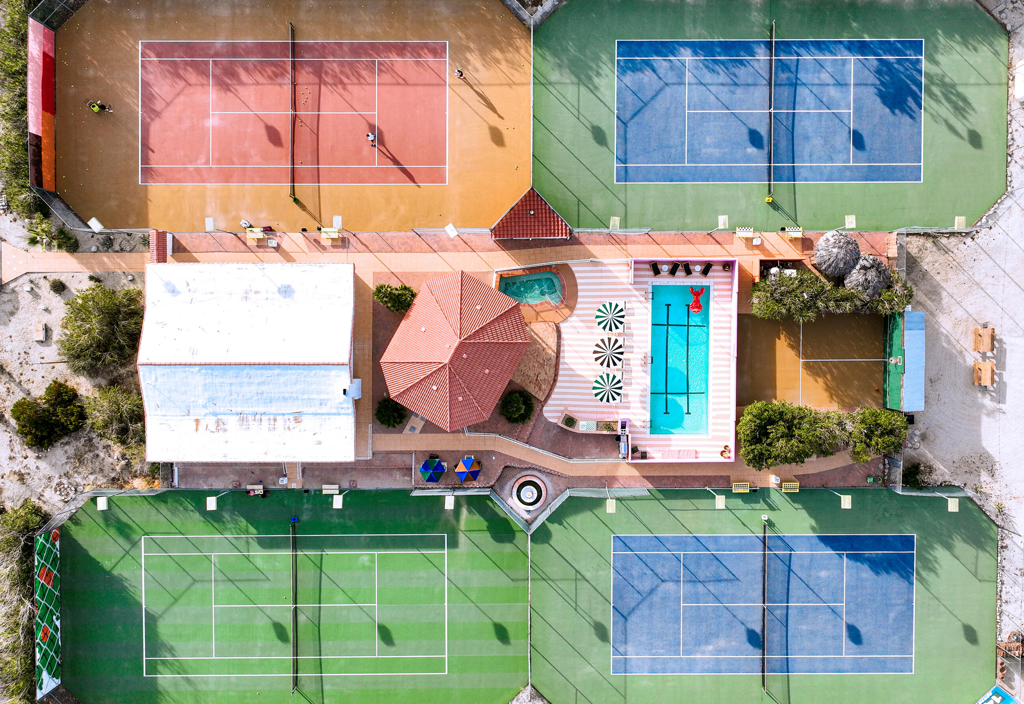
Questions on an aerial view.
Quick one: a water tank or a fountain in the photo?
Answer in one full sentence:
The one in the frame is a fountain.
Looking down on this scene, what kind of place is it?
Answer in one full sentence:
What you see here is a sports ground.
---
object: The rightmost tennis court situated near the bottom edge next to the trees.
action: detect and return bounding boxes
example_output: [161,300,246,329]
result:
[530,488,998,704]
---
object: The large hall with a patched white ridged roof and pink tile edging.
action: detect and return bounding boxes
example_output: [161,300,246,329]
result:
[133,262,363,462]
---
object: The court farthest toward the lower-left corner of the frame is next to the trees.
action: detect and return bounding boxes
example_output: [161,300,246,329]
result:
[61,488,529,704]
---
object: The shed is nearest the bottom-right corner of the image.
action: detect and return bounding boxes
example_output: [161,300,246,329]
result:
[908,312,925,411]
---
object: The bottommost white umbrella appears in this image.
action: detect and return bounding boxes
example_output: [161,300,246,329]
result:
[592,373,622,403]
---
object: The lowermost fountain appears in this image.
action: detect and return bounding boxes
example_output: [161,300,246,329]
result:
[511,475,547,512]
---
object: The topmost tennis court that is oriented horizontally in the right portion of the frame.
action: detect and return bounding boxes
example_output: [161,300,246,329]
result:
[532,0,1008,233]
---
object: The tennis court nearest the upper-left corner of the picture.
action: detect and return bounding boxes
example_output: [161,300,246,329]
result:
[55,0,531,233]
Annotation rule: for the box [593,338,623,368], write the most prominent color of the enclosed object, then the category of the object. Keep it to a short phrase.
white umbrella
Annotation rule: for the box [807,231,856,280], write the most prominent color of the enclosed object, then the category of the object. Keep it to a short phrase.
gray umbrella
